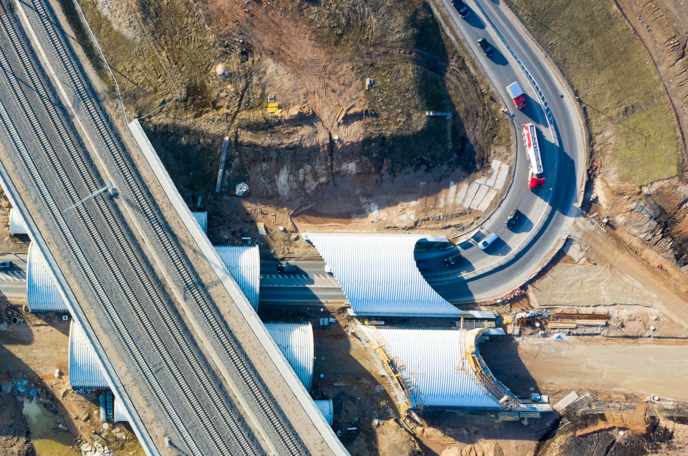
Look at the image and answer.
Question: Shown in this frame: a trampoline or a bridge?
bridge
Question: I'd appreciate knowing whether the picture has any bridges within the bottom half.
Yes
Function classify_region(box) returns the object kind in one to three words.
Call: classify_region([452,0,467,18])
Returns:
car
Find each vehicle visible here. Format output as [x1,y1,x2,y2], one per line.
[452,0,467,18]
[504,209,522,229]
[505,79,530,114]
[477,232,499,251]
[320,264,332,273]
[0,262,12,269]
[520,123,544,189]
[415,262,434,271]
[276,265,299,273]
[478,38,492,58]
